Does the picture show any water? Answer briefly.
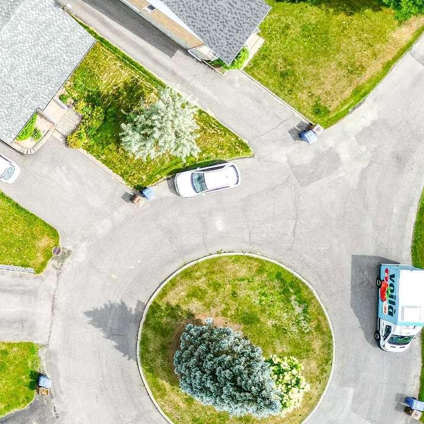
No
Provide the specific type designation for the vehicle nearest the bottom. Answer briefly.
truck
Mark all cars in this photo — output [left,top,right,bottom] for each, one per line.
[0,150,23,185]
[174,161,240,197]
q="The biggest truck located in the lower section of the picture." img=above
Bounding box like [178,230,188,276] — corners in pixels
[361,264,421,352]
